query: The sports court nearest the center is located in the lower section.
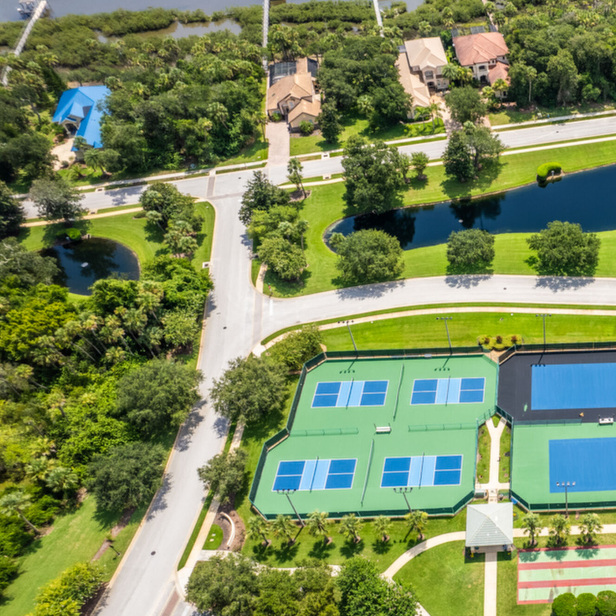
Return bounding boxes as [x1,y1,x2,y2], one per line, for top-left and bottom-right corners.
[311,377,389,408]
